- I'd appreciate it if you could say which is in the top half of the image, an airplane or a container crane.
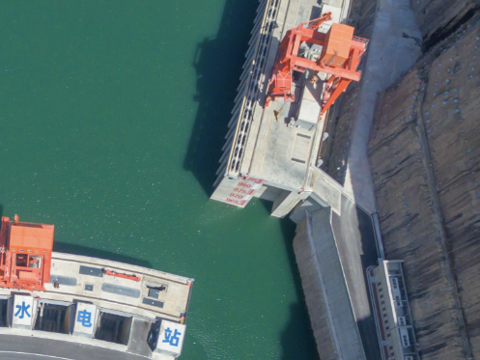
container crane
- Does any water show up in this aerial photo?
Yes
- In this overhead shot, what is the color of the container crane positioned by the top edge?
red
